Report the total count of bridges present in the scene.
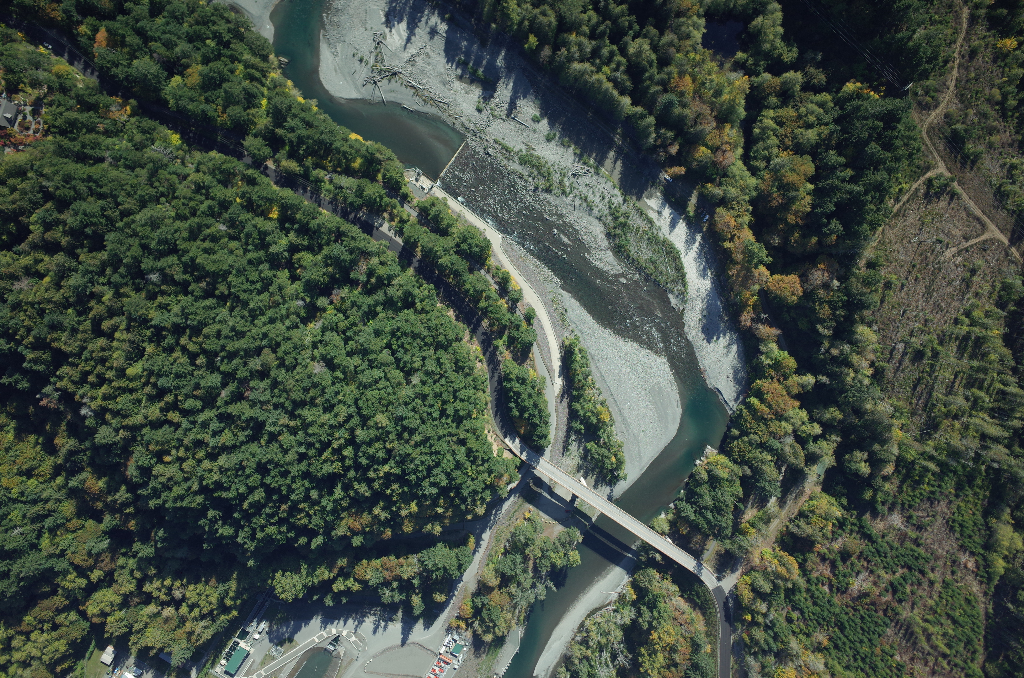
1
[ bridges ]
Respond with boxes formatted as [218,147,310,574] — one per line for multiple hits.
[507,435,722,591]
